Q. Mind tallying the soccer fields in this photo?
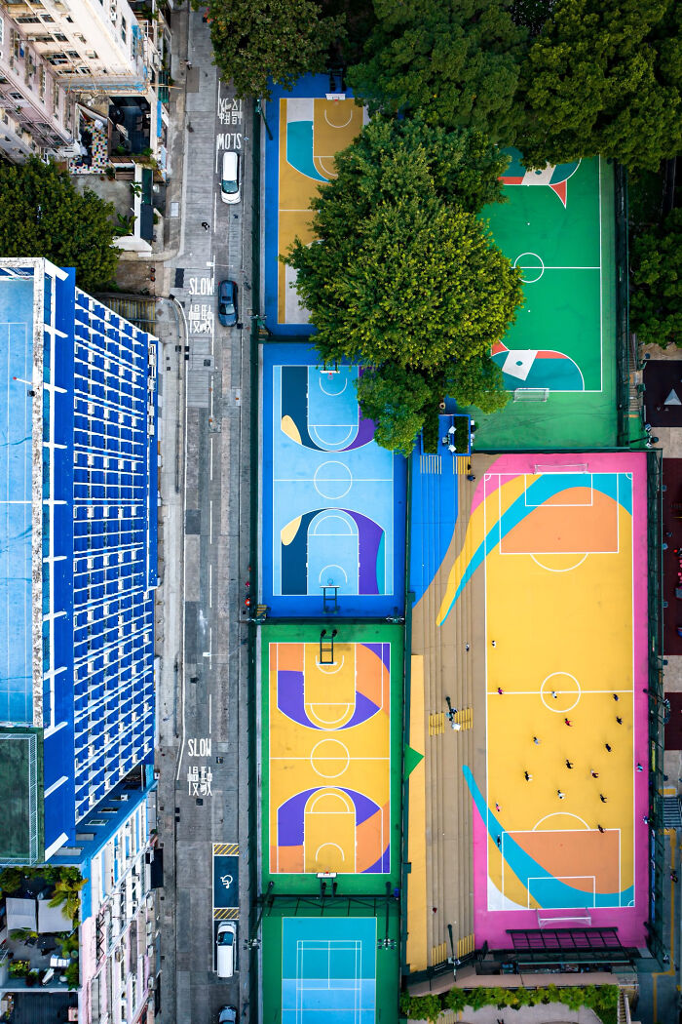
2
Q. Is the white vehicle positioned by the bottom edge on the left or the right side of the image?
left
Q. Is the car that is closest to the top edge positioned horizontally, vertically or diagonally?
vertically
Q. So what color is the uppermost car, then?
white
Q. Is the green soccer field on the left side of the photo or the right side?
right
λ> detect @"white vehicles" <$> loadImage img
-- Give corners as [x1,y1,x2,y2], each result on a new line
[216,923,238,978]
[217,149,240,202]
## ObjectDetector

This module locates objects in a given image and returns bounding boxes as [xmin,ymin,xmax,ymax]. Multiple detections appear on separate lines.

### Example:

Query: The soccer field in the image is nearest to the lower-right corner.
[474,454,647,949]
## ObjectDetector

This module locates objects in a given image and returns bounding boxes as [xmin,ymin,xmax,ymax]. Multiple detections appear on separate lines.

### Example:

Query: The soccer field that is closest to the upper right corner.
[417,107,615,448]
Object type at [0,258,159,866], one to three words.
building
